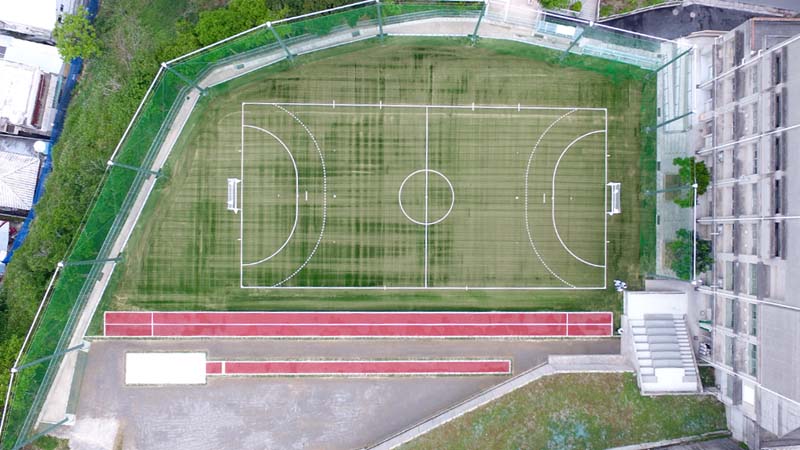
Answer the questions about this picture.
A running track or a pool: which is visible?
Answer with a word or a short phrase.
running track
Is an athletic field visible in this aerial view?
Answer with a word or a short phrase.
Yes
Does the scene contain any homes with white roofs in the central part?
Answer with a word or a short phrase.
No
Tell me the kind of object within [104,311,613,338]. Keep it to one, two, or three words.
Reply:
running track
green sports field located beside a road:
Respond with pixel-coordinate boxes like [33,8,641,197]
[86,37,655,340]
